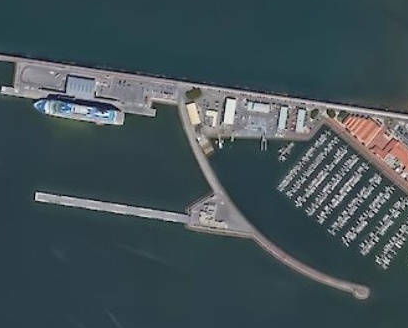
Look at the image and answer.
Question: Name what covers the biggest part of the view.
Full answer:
Most of the picture is covered by water.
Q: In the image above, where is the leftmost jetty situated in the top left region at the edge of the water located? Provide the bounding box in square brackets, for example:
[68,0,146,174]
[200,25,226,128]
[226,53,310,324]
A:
[0,63,181,117]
